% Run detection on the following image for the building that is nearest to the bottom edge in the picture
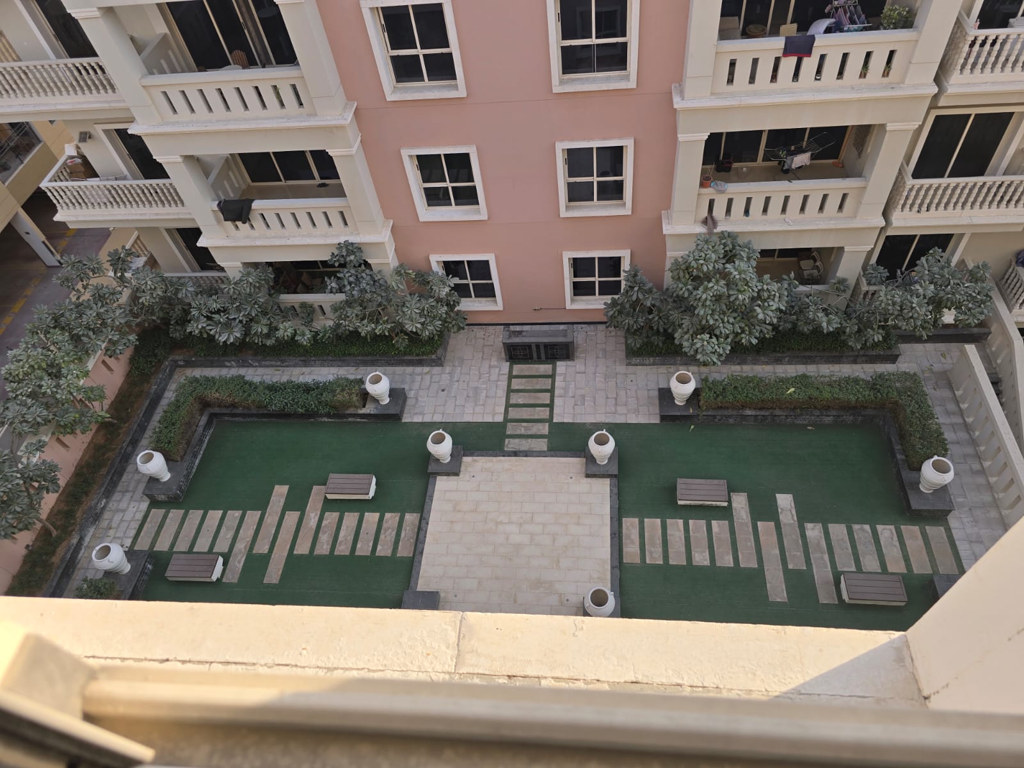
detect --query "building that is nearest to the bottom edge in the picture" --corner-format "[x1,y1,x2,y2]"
[0,597,1015,715]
